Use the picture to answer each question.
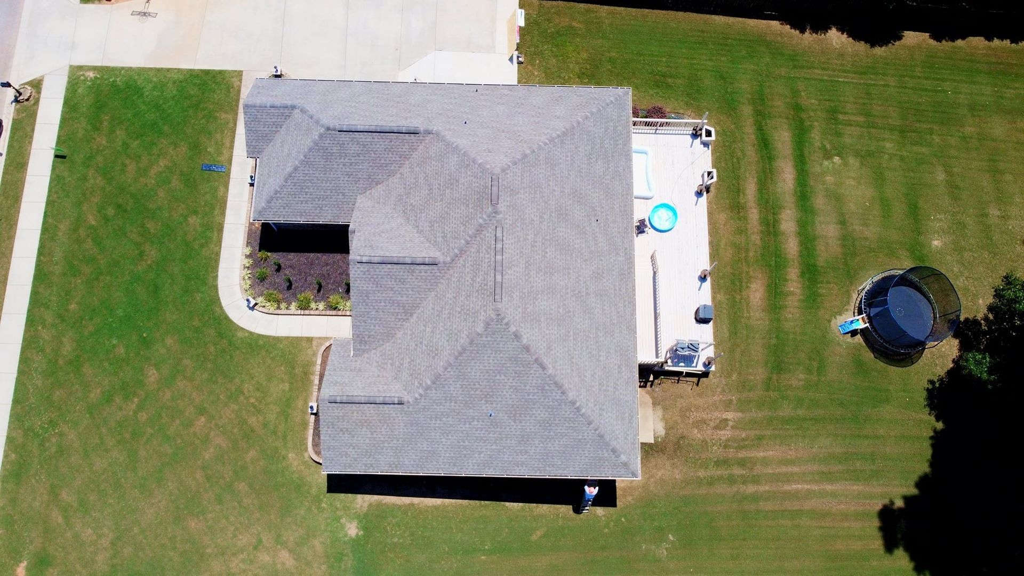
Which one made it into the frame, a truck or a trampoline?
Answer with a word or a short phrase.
trampoline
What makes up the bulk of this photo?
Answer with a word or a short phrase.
grass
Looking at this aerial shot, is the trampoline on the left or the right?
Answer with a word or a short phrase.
right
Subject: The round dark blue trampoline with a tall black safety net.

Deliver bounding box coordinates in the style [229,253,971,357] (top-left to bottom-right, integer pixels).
[851,264,964,356]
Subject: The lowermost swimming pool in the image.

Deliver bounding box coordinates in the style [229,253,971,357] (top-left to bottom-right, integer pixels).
[649,203,678,232]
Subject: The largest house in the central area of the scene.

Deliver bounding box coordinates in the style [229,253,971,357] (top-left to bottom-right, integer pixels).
[240,77,642,483]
